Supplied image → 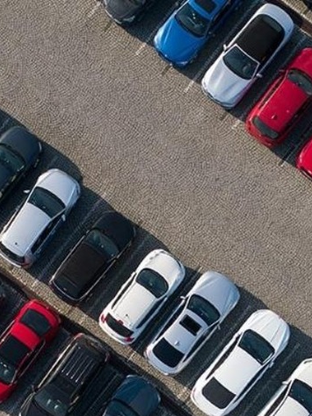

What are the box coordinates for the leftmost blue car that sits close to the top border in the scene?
[157,0,242,71]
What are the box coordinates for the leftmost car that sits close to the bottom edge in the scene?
[0,299,63,404]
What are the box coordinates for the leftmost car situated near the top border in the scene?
[108,0,166,32]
